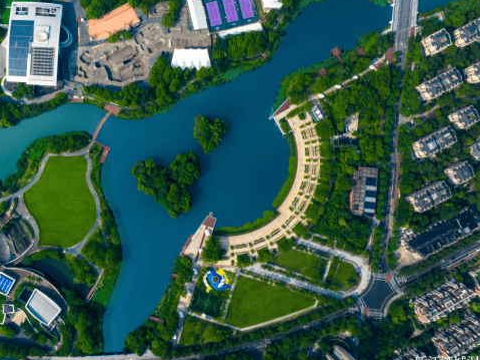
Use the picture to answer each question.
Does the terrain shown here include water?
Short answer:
Yes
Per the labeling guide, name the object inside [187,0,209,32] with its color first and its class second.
white tent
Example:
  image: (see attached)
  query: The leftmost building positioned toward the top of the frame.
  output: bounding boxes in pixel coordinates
[1,2,74,93]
